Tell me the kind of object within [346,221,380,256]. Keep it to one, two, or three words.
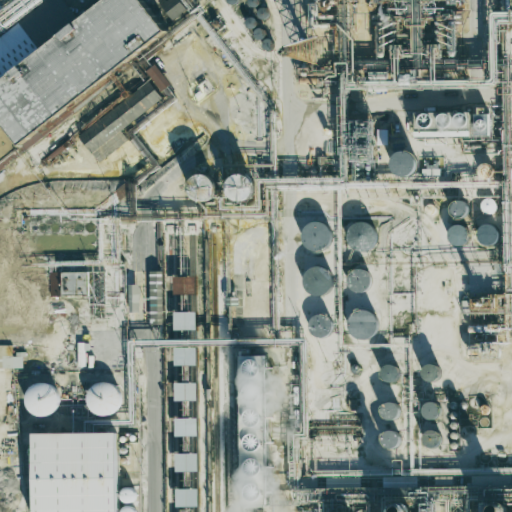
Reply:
storage tank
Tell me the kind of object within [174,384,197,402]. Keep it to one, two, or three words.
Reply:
shed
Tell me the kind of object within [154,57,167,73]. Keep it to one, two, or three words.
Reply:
vehicle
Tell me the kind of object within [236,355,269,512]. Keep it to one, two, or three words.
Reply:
cooling tower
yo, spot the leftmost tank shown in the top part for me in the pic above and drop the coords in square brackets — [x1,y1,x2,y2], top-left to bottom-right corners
[186,172,217,204]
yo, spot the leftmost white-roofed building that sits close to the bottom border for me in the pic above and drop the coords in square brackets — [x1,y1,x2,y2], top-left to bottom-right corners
[29,434,120,512]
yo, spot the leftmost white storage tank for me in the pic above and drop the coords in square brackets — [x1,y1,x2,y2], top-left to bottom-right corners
[23,381,62,420]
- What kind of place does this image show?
industrial area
